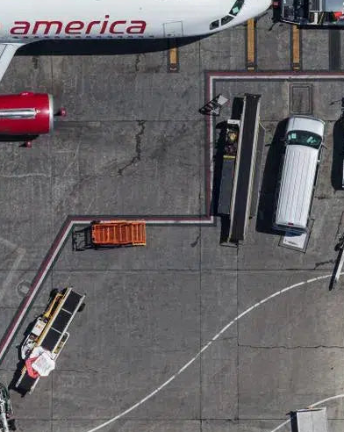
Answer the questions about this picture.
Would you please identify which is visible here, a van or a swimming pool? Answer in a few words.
van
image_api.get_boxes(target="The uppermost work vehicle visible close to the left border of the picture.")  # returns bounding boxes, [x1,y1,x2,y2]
[15,287,83,393]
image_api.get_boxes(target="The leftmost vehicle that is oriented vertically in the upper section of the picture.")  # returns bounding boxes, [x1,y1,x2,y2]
[221,96,267,247]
